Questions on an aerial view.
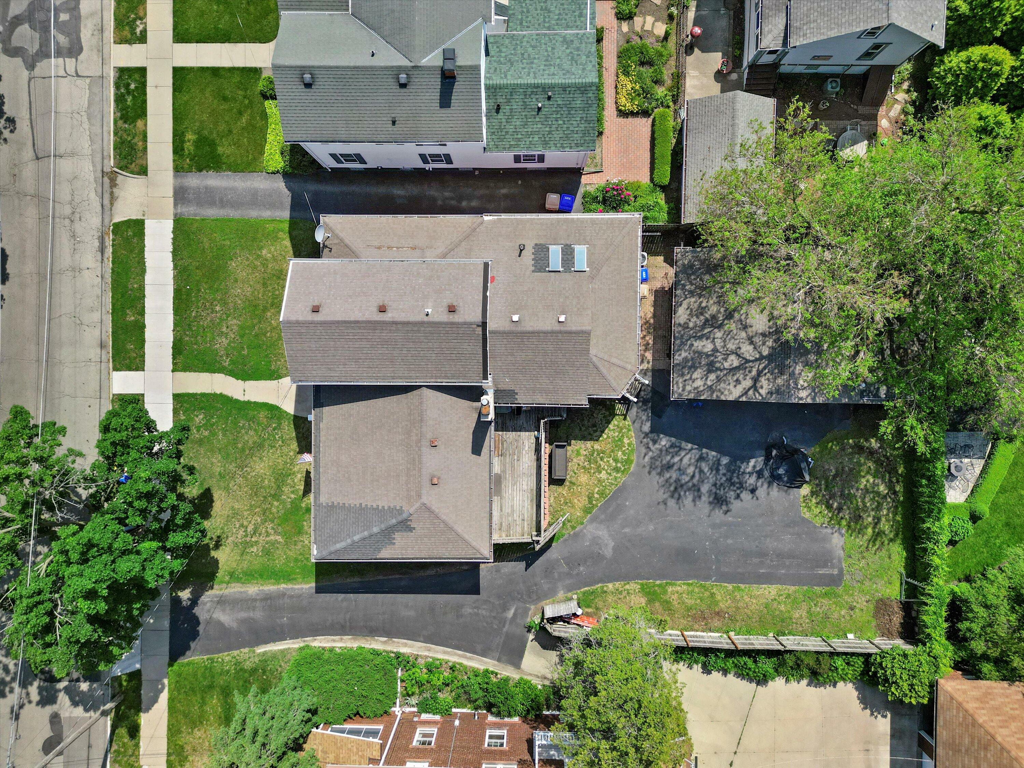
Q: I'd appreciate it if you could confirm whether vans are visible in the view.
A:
No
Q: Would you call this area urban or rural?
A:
urban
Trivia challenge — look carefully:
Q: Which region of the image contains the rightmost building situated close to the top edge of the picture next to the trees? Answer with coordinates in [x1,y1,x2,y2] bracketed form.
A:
[744,0,946,106]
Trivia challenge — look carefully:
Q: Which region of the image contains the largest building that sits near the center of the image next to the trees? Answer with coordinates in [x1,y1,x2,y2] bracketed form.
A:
[278,213,642,561]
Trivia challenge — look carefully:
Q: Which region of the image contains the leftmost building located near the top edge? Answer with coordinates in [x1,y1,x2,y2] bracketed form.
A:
[271,0,599,172]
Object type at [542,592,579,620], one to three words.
shed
